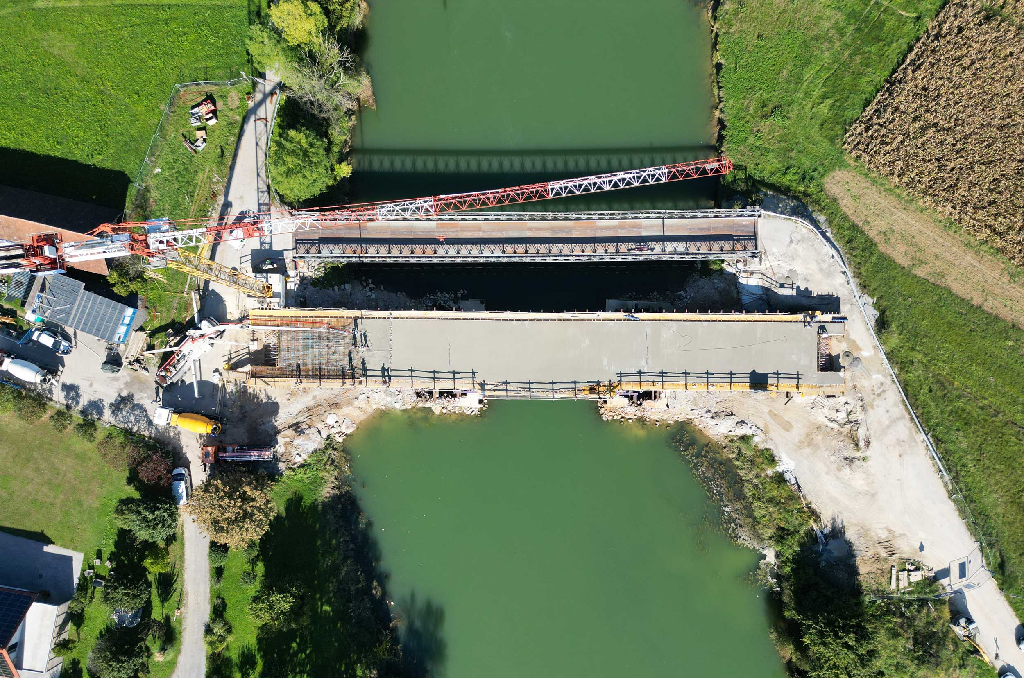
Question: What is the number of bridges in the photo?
two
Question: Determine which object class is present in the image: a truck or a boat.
truck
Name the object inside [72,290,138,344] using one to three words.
shed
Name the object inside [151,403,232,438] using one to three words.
truck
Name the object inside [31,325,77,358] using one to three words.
car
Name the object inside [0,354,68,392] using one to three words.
truck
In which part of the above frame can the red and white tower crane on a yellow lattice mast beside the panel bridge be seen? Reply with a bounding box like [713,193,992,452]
[0,155,739,309]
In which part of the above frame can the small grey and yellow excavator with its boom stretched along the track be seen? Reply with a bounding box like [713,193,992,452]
[948,608,993,664]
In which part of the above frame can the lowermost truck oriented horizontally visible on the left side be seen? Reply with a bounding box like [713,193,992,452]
[200,435,277,469]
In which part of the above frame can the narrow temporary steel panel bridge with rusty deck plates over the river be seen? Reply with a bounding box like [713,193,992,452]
[291,209,766,265]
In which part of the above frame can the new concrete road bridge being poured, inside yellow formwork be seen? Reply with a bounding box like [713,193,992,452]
[225,299,845,411]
